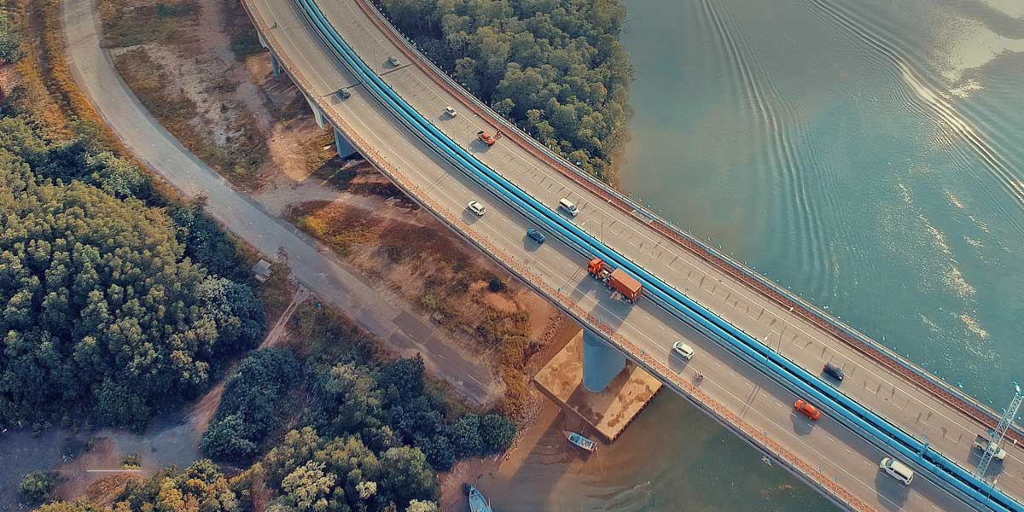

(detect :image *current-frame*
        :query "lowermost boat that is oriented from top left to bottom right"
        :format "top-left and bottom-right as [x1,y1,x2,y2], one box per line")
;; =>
[471,481,497,512]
